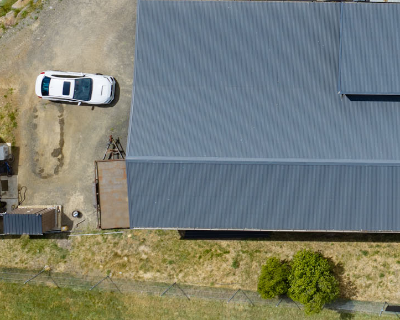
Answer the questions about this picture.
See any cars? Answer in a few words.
Yes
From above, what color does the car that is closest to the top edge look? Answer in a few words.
white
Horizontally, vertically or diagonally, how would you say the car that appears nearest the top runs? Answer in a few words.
horizontally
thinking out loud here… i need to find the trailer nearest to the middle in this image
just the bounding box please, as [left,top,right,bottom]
[91,133,129,229]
